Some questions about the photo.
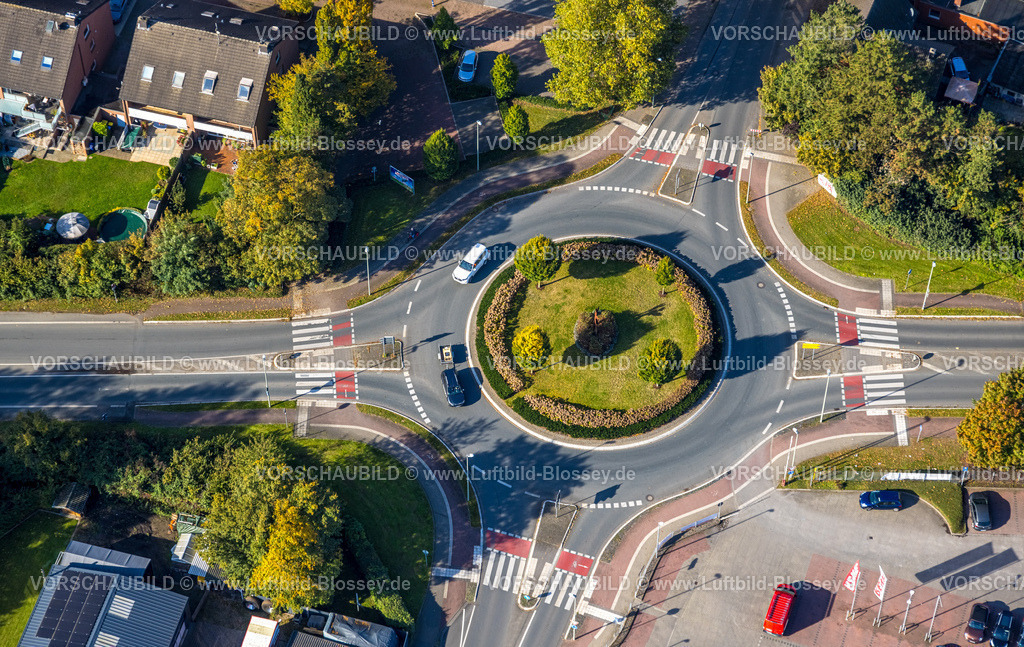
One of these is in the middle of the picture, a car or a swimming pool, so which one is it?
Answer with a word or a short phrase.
car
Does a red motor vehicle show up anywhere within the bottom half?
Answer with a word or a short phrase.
Yes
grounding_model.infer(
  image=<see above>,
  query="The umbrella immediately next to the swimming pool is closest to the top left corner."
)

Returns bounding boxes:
[52,211,86,238]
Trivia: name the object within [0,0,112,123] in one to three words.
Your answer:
house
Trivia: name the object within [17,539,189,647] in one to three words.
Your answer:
building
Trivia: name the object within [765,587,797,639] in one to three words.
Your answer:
van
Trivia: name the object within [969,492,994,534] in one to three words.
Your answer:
car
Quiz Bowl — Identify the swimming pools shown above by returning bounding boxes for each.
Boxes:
[97,203,147,247]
